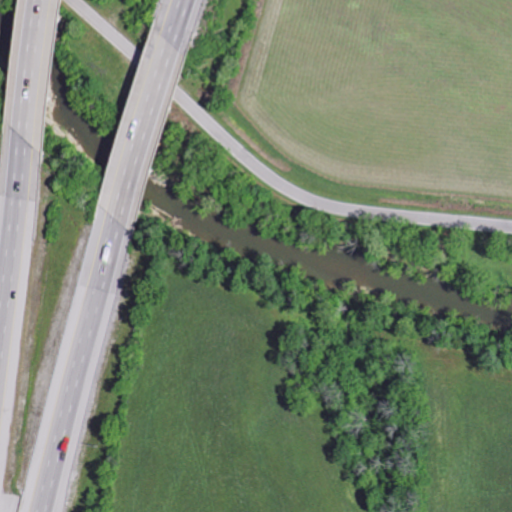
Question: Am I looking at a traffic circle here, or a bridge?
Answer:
bridge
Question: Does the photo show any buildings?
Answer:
No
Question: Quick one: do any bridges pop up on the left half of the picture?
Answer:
Yes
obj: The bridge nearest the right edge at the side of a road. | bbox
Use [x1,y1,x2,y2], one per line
[96,20,186,238]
